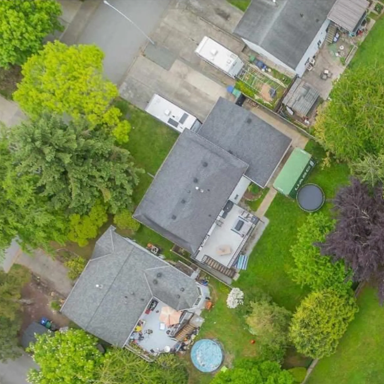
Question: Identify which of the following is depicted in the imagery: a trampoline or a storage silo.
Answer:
trampoline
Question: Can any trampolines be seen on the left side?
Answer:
No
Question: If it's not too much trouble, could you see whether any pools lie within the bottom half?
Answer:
Yes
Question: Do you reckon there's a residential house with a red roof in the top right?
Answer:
No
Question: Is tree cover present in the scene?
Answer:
Yes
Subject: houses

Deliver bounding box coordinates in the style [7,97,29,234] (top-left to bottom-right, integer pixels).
[133,97,293,280]
[59,228,216,355]
[232,0,344,83]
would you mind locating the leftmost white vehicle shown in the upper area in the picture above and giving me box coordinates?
[145,94,202,134]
